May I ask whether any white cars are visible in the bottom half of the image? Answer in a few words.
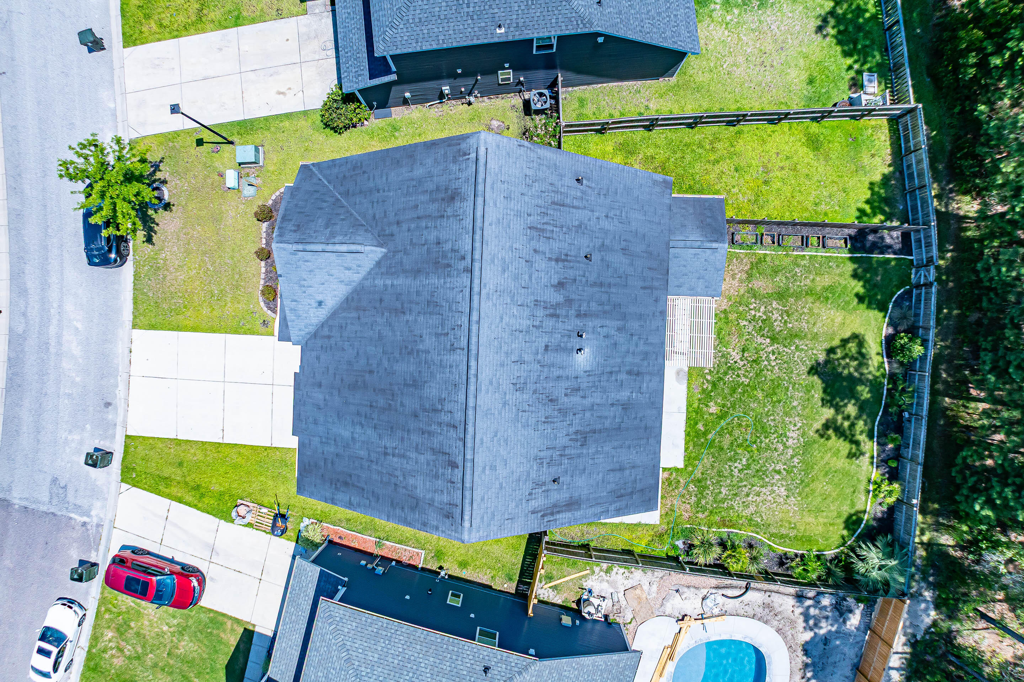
Yes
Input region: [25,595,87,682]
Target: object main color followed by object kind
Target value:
white car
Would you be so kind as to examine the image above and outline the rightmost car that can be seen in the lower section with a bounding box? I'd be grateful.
[102,548,207,610]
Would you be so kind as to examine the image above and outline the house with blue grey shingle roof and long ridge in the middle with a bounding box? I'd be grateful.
[273,131,728,543]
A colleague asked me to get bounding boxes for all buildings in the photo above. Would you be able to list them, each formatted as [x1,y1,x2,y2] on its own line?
[334,0,700,113]
[273,131,728,543]
[254,543,646,682]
